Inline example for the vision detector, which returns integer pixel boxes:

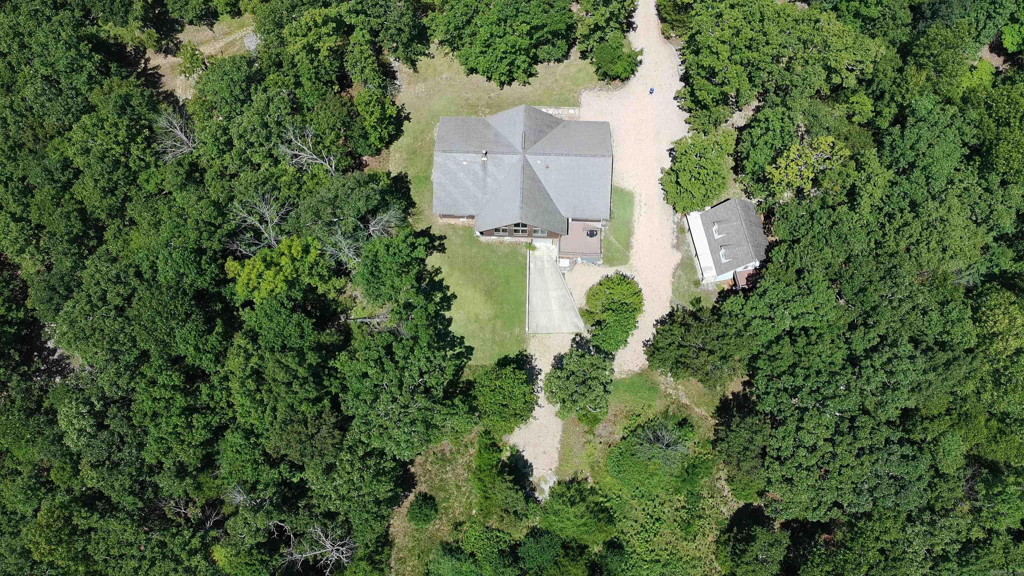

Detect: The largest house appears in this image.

[432,106,613,244]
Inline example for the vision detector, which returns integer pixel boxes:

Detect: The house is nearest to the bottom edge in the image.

[680,199,777,284]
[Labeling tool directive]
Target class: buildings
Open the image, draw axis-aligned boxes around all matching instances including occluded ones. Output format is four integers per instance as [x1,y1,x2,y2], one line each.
[432,106,613,244]
[680,199,777,284]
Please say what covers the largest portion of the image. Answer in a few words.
trees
